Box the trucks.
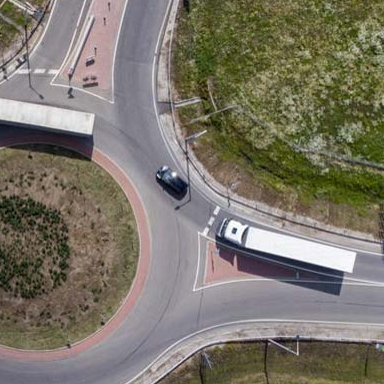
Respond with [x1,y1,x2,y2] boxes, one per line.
[0,99,97,138]
[214,217,358,272]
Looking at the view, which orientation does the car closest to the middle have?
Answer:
on a diagonal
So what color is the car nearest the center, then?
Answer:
black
